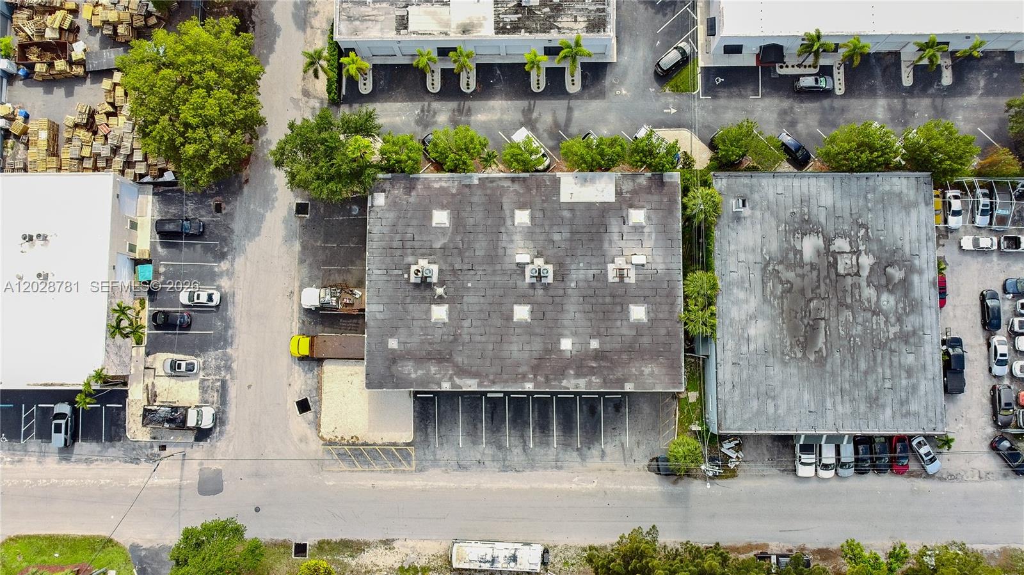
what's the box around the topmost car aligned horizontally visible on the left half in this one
[153,215,205,236]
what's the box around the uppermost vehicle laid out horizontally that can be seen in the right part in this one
[792,72,835,93]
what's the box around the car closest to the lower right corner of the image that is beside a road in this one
[989,435,1024,477]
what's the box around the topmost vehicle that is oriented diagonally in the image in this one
[652,40,693,78]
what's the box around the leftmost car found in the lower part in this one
[50,401,75,449]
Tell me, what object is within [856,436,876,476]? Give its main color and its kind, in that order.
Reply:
black car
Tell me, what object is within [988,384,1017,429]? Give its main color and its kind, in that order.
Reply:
gray car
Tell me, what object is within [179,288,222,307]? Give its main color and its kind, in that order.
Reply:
white car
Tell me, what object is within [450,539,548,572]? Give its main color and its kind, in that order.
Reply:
white vehicle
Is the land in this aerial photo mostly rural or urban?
urban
